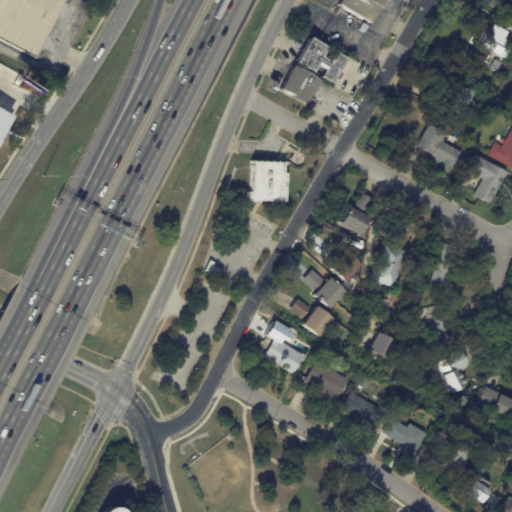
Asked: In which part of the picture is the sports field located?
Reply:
bottom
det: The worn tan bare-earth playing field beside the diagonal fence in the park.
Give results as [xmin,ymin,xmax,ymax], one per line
[178,437,258,512]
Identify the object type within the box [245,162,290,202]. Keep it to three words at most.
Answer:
building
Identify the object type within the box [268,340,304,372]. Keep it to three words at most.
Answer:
house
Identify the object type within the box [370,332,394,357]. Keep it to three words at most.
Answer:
house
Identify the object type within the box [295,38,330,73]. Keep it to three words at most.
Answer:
building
